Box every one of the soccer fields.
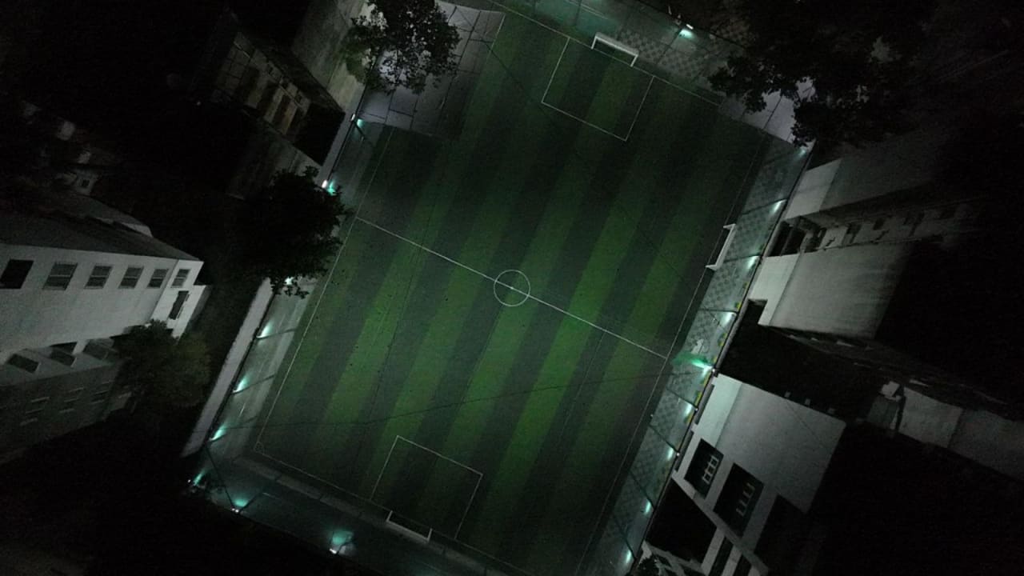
[237,0,782,576]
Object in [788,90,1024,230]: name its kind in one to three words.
building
